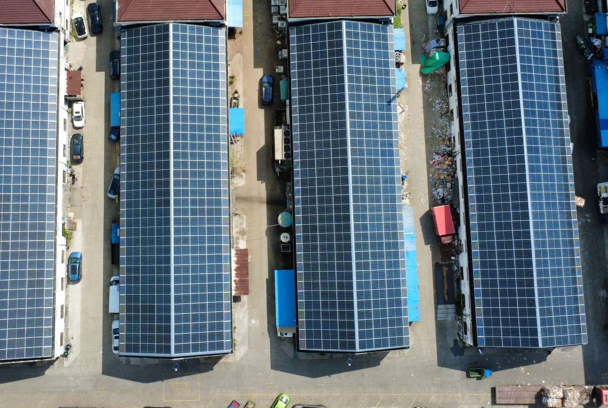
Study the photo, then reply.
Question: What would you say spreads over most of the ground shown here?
buildings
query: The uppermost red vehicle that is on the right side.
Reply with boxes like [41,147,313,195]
[426,205,455,246]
